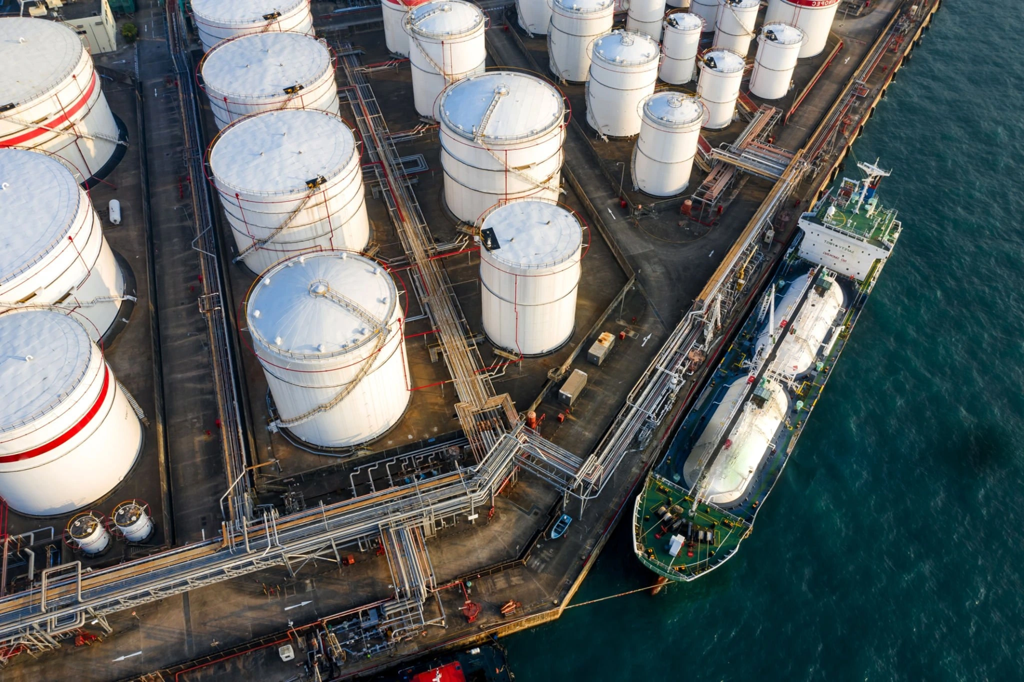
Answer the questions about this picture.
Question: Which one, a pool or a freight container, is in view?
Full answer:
The one in the frame is a freight container.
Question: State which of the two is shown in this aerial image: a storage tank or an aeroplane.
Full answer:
Looking from above, you can make out a storage tank.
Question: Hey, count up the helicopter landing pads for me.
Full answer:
There are no helicopter landing pads in this view.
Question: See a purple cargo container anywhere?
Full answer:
No, there's no purple cargo container here.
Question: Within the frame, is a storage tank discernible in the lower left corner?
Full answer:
Yes, the scene does show a storage tank in the lower left corner.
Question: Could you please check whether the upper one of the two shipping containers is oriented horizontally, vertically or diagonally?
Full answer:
In this picture, the upper one of the two shipping containers is oriented diagonally.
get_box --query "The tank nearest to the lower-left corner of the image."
[65,510,114,558]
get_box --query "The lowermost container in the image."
[560,369,587,402]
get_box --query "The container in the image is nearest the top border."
[589,330,616,363]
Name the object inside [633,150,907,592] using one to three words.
ship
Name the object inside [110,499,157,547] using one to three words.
storage tank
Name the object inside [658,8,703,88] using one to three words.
storage tank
